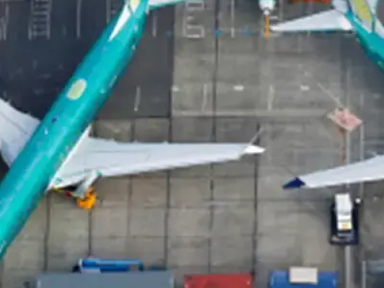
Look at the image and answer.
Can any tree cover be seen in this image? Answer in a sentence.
No, the scene doesn't show any tree cover.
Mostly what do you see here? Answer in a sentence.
What you mostly see from above here is paved ground.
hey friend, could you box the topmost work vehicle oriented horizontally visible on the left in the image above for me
[79,260,151,275]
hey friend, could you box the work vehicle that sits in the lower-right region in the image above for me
[329,192,361,247]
